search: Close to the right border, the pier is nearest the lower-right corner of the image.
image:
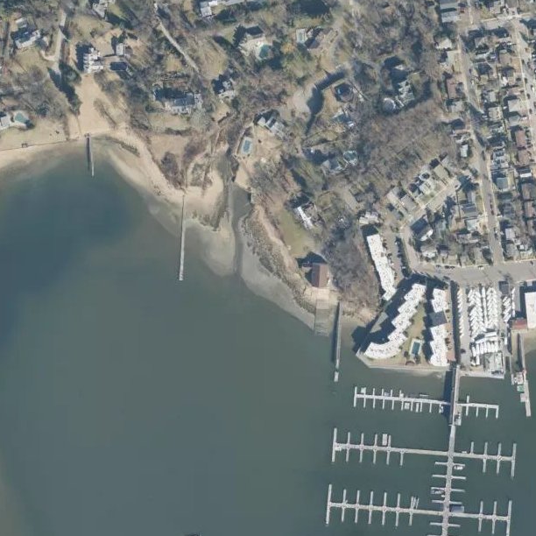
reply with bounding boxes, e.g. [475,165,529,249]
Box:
[450,500,511,536]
